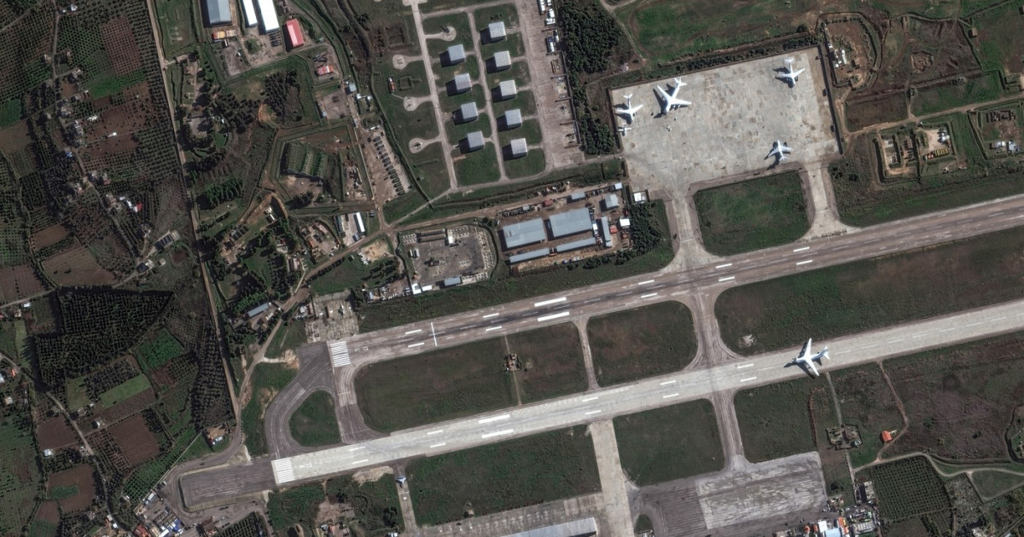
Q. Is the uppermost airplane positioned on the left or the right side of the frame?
right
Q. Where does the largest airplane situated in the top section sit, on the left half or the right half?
right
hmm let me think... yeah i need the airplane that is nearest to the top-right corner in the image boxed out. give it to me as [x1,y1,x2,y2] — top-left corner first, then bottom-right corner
[779,57,804,86]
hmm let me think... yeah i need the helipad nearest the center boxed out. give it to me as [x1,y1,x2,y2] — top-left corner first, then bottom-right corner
[409,135,442,152]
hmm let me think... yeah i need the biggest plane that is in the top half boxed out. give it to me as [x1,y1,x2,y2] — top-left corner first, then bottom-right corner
[657,78,692,115]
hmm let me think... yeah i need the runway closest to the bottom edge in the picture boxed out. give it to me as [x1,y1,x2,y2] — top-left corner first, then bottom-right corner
[271,299,1024,485]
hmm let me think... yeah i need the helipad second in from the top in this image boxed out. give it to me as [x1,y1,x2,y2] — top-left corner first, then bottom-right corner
[393,55,425,68]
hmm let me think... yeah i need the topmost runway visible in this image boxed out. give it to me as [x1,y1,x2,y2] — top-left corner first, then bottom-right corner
[327,196,1024,371]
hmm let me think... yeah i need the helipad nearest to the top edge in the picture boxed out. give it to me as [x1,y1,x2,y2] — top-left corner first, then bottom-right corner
[425,26,455,40]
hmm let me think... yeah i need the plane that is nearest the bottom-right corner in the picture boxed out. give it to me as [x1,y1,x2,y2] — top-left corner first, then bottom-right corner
[794,337,830,374]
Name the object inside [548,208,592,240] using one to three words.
building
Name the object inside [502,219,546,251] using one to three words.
building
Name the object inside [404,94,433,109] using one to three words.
helipad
